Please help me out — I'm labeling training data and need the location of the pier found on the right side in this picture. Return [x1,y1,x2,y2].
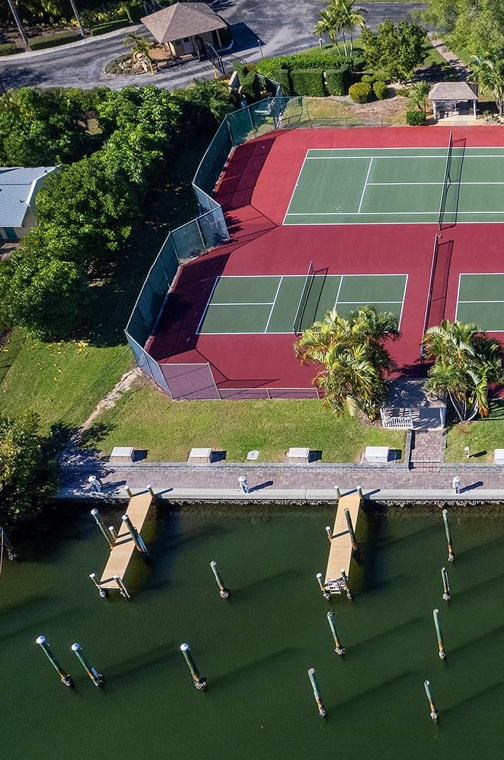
[318,485,370,606]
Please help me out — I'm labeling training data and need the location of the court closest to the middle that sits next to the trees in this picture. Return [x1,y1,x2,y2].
[197,275,408,333]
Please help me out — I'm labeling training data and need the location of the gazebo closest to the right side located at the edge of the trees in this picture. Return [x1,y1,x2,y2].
[429,80,479,120]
